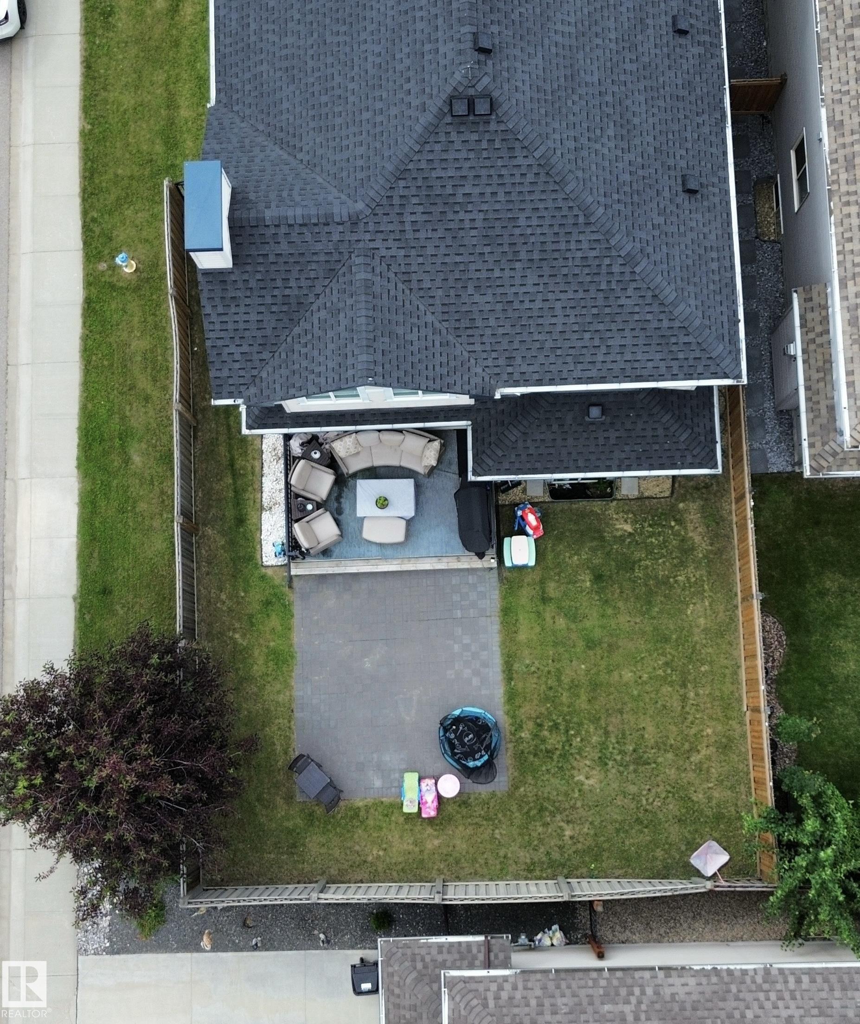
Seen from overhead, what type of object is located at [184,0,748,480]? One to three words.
house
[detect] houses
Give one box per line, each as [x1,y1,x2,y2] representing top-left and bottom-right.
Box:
[764,0,860,478]
[184,0,748,480]
[378,928,860,1024]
